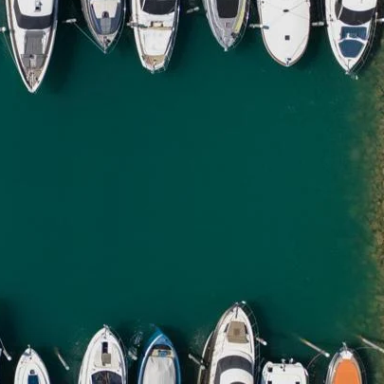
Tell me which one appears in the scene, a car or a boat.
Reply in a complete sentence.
Visible in the photo is a boat.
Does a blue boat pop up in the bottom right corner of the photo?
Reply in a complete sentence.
No, there's no blue boat to be seen in the bottom right corner of the photo.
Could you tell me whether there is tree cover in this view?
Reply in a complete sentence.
No, no tree cover is visible.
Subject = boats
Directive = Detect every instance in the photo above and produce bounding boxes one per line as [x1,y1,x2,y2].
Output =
[320,344,365,384]
[197,334,213,384]
[78,322,128,384]
[4,0,59,96]
[206,301,262,384]
[198,0,249,53]
[249,0,308,70]
[315,0,379,77]
[127,0,181,75]
[13,344,47,384]
[260,359,309,384]
[78,0,124,56]
[134,326,178,384]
